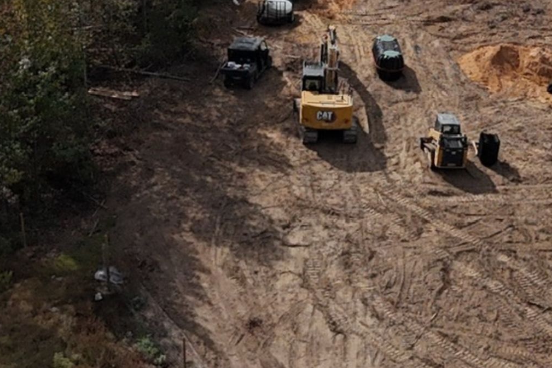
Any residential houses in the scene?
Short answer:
No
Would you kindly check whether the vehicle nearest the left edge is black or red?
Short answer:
black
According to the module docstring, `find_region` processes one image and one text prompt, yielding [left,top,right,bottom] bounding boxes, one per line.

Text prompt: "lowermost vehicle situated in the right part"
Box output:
[417,114,475,169]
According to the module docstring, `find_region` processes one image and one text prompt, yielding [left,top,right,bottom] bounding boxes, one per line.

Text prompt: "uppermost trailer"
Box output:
[258,0,294,25]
